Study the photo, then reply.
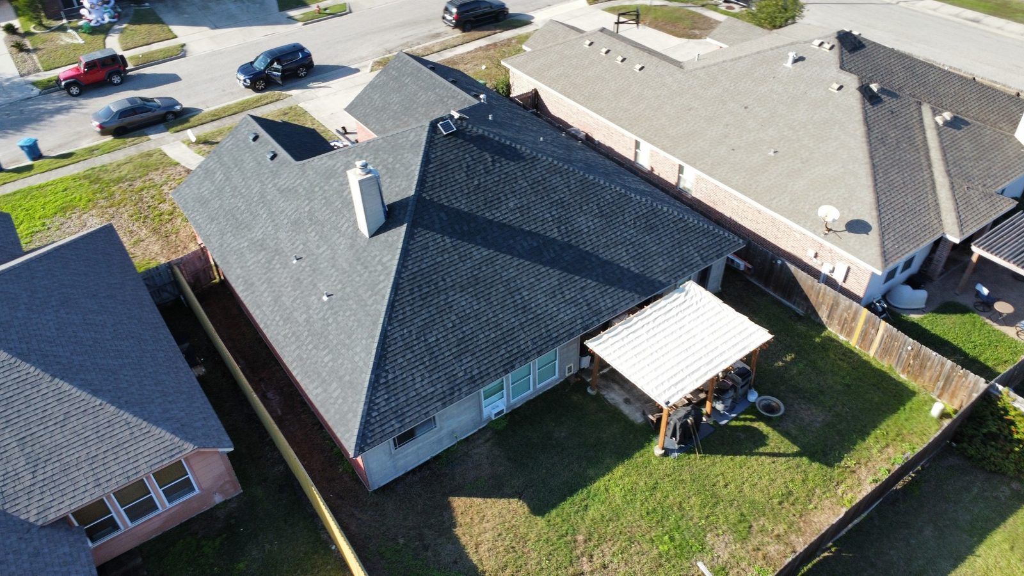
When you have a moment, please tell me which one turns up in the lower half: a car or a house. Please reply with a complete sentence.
The one visible in the lower half is a house.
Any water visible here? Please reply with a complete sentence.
No, no water is visible.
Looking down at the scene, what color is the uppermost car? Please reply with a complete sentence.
The uppermost car is black.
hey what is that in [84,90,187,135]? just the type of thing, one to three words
car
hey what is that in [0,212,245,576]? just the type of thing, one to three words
house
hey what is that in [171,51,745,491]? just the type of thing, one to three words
house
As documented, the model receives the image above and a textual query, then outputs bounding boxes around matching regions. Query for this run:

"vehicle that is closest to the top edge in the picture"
[442,0,515,32]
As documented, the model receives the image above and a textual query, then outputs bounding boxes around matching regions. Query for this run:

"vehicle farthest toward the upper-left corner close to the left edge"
[51,44,129,95]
